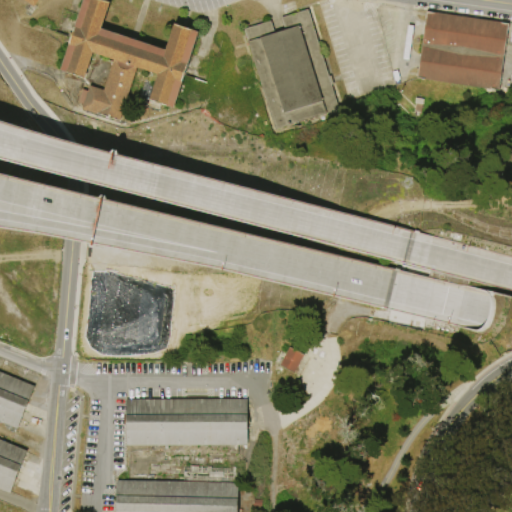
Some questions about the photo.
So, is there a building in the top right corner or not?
Yes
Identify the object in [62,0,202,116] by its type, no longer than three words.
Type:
building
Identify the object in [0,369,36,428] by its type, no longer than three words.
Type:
building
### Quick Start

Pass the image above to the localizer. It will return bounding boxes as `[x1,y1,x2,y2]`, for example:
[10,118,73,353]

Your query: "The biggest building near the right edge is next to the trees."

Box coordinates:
[419,10,510,88]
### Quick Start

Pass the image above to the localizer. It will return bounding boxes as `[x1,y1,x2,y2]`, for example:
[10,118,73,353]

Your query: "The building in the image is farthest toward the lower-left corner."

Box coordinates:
[0,437,28,492]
